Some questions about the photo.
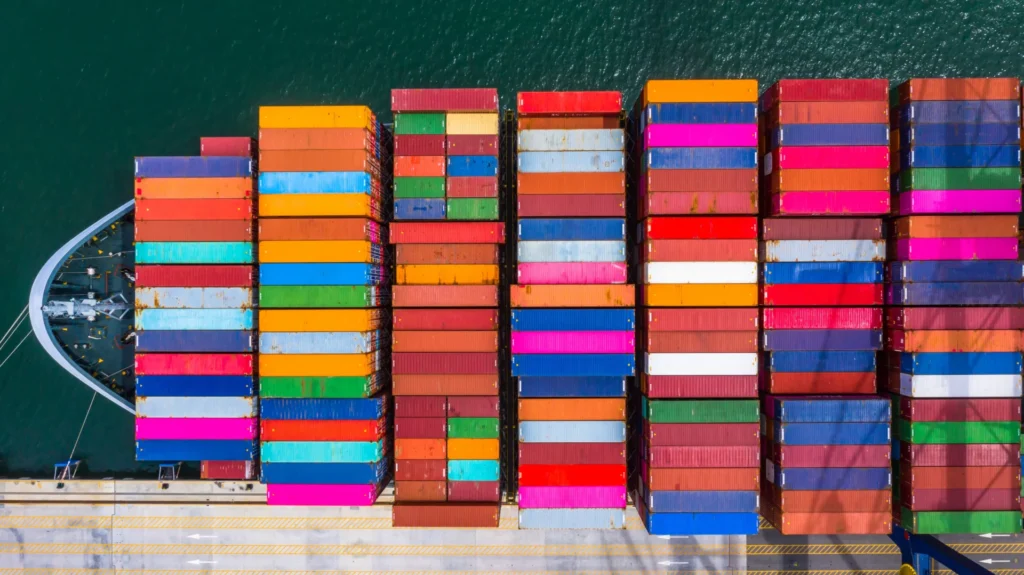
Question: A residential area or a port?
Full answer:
The area seen from above is a port.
